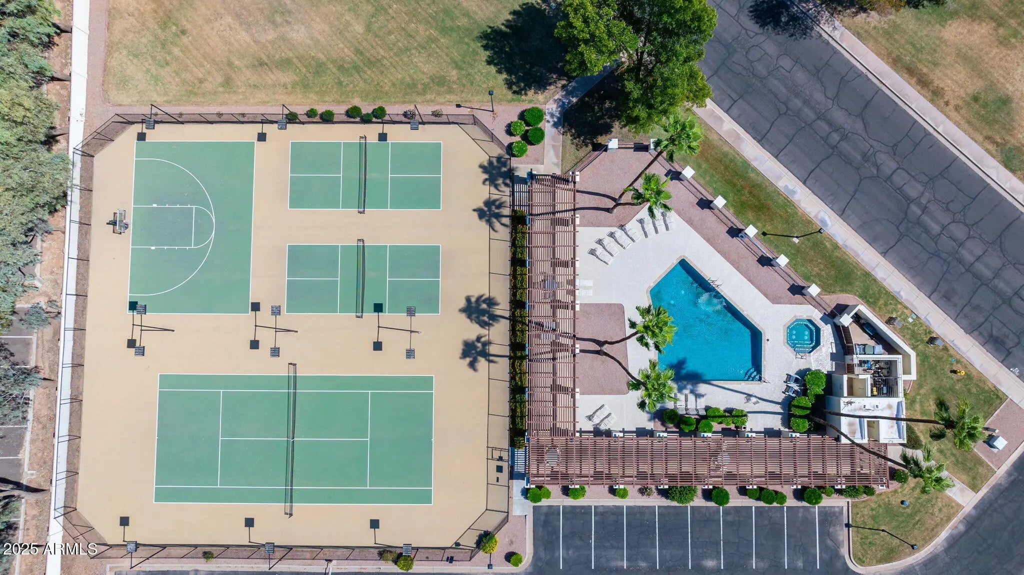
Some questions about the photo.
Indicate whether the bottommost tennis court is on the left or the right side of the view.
left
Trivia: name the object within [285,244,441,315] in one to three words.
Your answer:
sports court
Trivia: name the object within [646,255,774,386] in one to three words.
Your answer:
swimming pool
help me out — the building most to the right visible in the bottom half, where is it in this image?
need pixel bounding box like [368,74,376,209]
[826,355,906,443]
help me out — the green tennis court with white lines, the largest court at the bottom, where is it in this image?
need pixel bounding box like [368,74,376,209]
[153,374,434,505]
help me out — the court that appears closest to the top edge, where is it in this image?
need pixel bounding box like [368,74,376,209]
[288,141,442,210]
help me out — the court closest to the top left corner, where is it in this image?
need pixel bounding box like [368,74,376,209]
[128,140,255,315]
